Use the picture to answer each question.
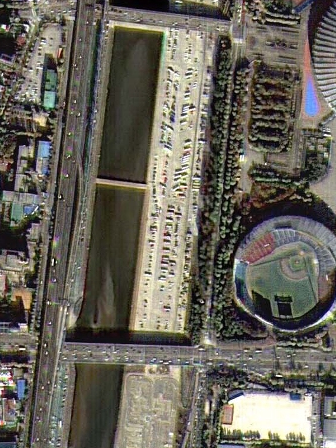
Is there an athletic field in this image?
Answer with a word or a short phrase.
Yes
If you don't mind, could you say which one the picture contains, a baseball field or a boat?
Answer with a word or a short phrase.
baseball field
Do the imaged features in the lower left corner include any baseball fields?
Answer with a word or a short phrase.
No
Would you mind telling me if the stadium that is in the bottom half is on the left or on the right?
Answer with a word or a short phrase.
right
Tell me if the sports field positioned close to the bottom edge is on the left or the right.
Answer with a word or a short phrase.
right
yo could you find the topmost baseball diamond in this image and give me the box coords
[245,235,325,323]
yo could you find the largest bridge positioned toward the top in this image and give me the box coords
[20,5,240,34]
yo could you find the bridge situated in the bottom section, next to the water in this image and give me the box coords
[38,342,213,367]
